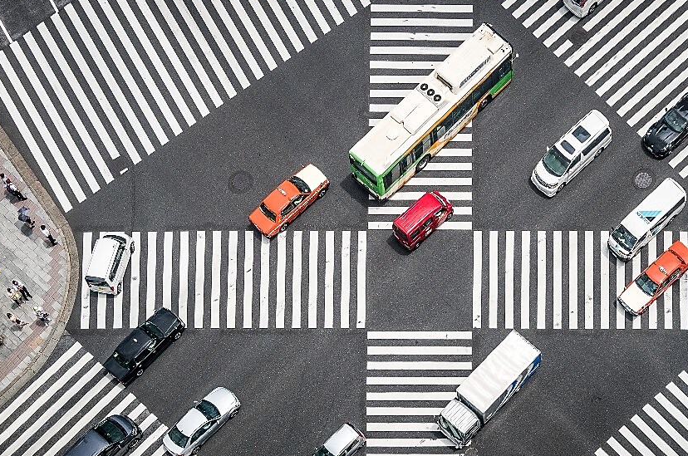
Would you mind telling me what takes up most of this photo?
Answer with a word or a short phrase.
paved ground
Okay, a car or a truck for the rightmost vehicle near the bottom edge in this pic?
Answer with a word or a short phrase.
truck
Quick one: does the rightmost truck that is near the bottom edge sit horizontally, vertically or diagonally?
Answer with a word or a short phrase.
diagonally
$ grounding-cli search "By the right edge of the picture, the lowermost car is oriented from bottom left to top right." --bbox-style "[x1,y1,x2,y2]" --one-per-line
[616,240,688,319]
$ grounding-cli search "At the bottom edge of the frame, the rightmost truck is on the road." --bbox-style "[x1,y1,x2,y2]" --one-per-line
[430,328,541,452]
